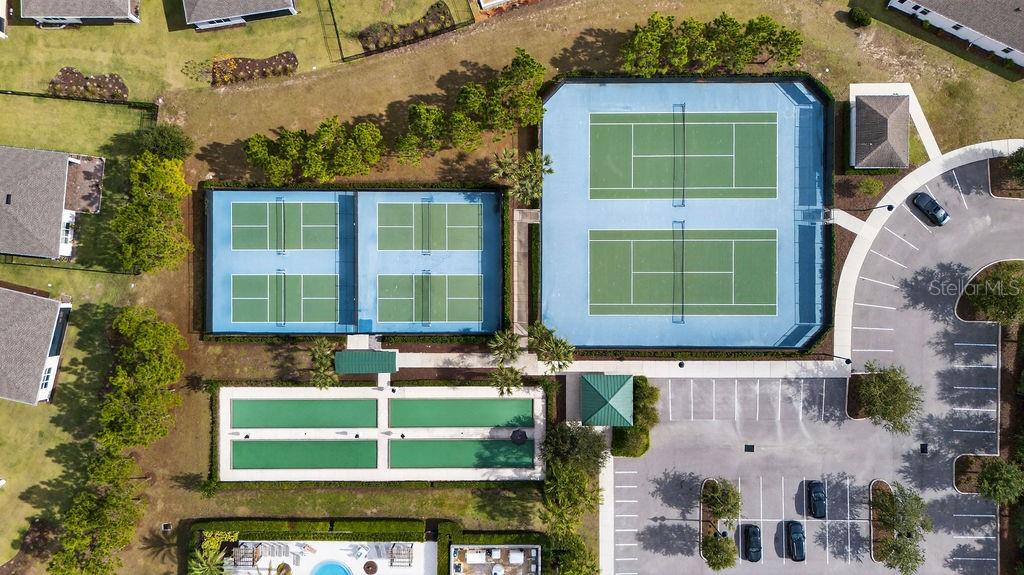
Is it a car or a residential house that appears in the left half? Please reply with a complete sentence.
Visible in the left half is a residential house.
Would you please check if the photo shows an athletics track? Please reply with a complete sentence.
No, there's no athletics track here.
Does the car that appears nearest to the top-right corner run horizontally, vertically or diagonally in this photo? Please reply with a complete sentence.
In this picture, the car that appears nearest to the top-right corner lies diagonally.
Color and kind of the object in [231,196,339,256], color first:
green sports court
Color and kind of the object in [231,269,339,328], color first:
green sports court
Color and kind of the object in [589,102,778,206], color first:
green tennis court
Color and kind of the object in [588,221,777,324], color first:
green tennis court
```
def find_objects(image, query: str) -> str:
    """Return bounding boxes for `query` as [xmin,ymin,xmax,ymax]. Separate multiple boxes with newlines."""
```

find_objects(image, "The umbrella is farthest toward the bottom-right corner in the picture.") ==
[510,428,527,445]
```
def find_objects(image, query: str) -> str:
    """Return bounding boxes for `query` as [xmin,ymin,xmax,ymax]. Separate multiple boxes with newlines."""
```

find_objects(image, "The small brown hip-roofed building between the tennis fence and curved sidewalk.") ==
[849,95,910,169]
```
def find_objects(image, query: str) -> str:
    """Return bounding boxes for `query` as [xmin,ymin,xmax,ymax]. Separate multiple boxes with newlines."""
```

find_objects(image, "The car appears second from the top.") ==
[807,478,827,518]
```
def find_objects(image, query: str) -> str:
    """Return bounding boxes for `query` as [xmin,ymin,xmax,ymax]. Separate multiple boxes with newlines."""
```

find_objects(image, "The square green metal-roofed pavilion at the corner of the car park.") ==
[580,375,633,427]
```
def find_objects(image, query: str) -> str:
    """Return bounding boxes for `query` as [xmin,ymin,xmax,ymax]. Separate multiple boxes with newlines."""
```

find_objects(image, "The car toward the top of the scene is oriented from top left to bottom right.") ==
[914,192,950,225]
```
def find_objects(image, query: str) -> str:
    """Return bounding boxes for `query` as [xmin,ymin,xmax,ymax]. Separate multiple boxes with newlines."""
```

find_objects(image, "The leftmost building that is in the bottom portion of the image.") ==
[0,289,71,408]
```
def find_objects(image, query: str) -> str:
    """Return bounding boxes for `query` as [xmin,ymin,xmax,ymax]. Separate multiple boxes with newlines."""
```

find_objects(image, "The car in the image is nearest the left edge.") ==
[743,522,762,561]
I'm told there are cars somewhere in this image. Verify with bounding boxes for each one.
[786,520,806,560]
[914,192,950,225]
[743,522,762,561]
[807,478,827,518]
